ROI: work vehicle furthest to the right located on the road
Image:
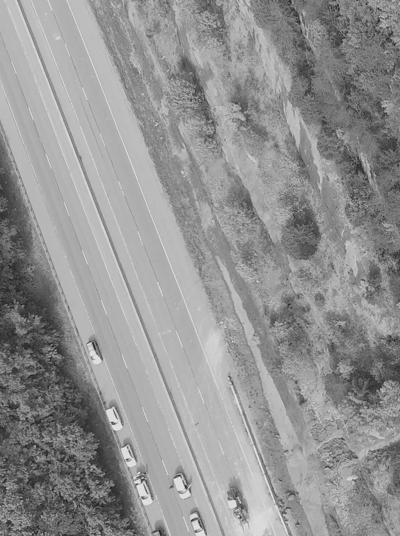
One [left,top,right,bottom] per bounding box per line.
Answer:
[228,491,250,529]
